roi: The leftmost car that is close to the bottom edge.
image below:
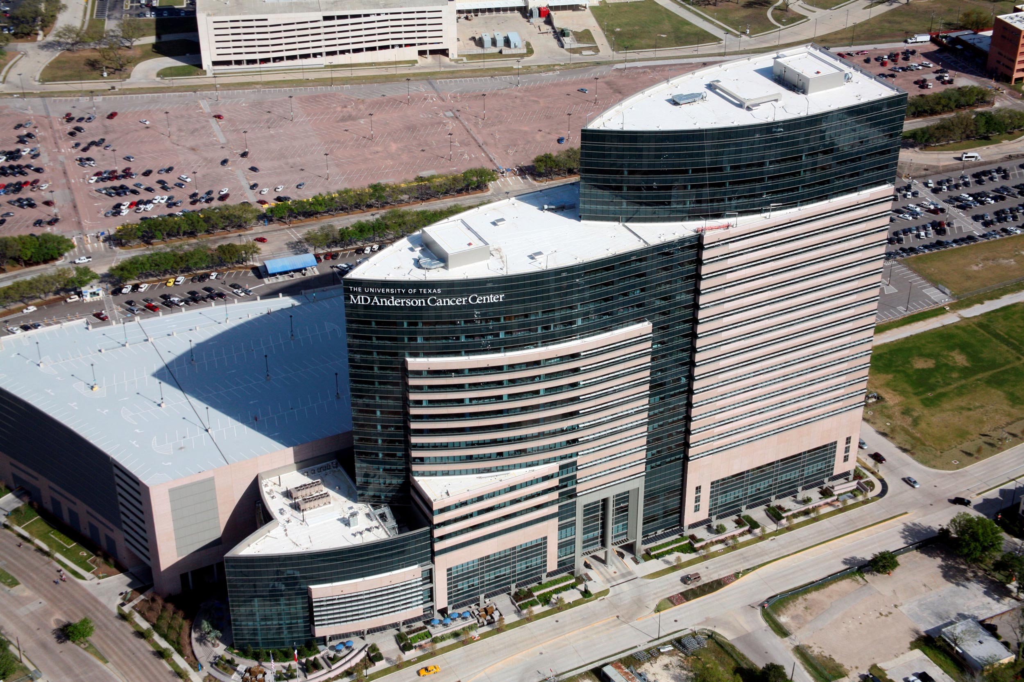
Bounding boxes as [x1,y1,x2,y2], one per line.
[420,666,440,678]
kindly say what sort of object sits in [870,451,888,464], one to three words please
vehicle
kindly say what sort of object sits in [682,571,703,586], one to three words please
vehicle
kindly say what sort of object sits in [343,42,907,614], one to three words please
building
